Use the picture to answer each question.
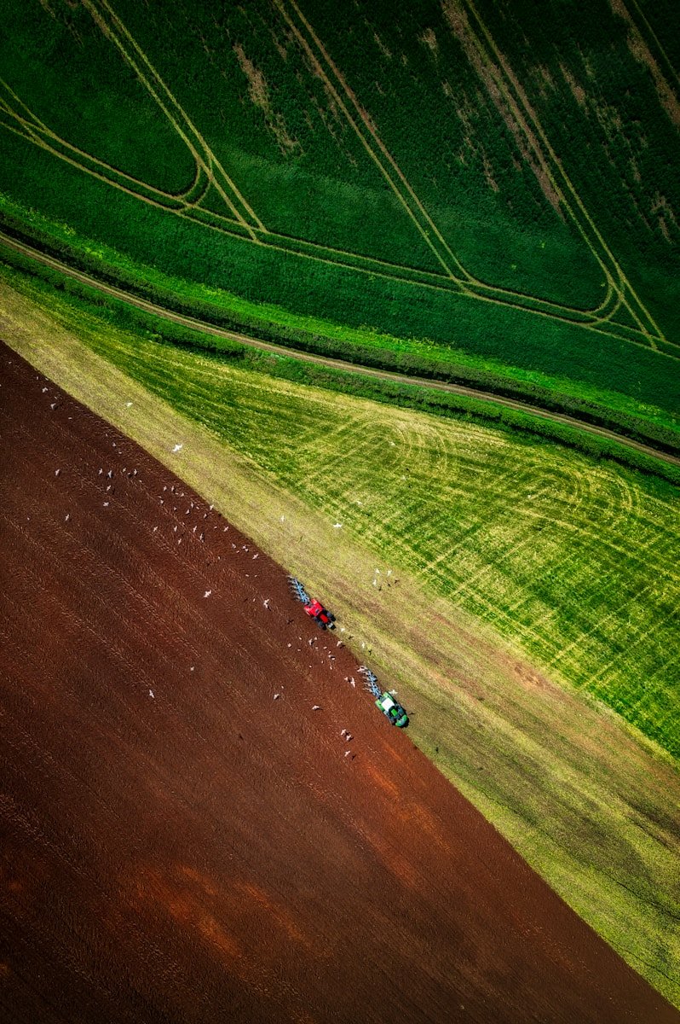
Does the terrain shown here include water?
No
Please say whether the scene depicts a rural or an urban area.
rural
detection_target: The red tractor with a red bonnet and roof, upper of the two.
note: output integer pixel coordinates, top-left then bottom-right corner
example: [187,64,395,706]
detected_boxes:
[304,598,334,629]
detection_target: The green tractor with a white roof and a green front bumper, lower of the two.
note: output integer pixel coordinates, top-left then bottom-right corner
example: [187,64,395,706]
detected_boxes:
[376,691,408,726]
